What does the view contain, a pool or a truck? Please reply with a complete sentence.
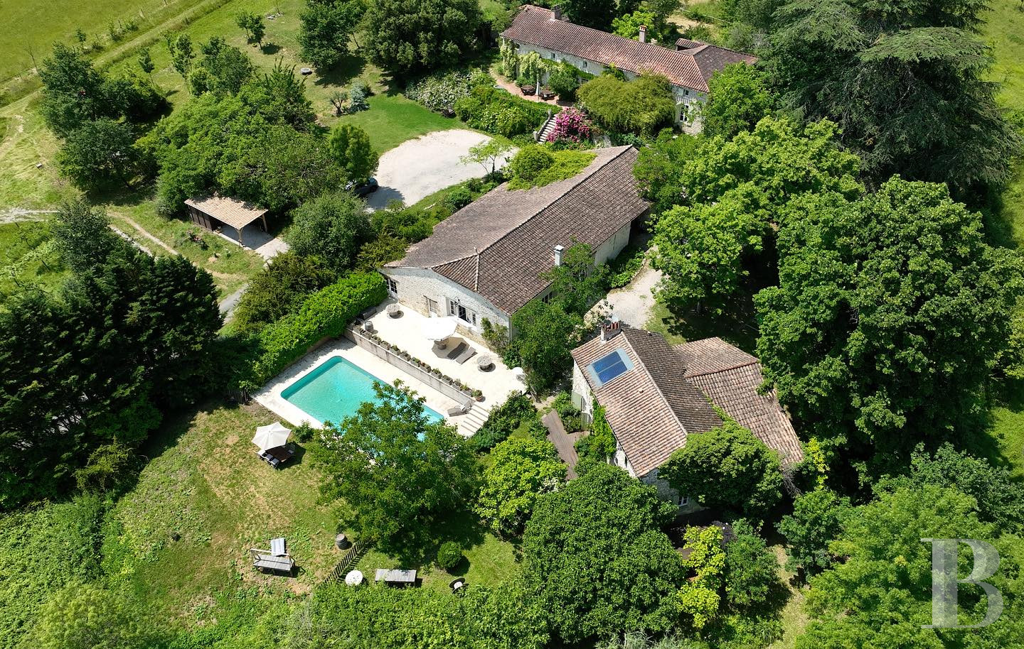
Of the two, only a pool appears.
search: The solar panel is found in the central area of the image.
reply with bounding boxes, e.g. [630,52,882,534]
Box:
[586,346,635,384]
